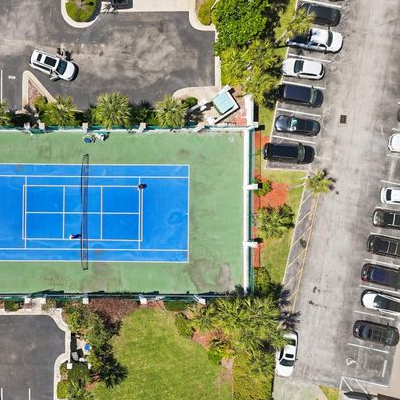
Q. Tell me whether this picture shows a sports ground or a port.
sports ground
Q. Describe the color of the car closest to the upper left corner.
white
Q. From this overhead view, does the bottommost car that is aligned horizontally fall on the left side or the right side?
right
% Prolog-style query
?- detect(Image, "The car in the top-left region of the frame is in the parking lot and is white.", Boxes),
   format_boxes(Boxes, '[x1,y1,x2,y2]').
[30,50,76,85]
